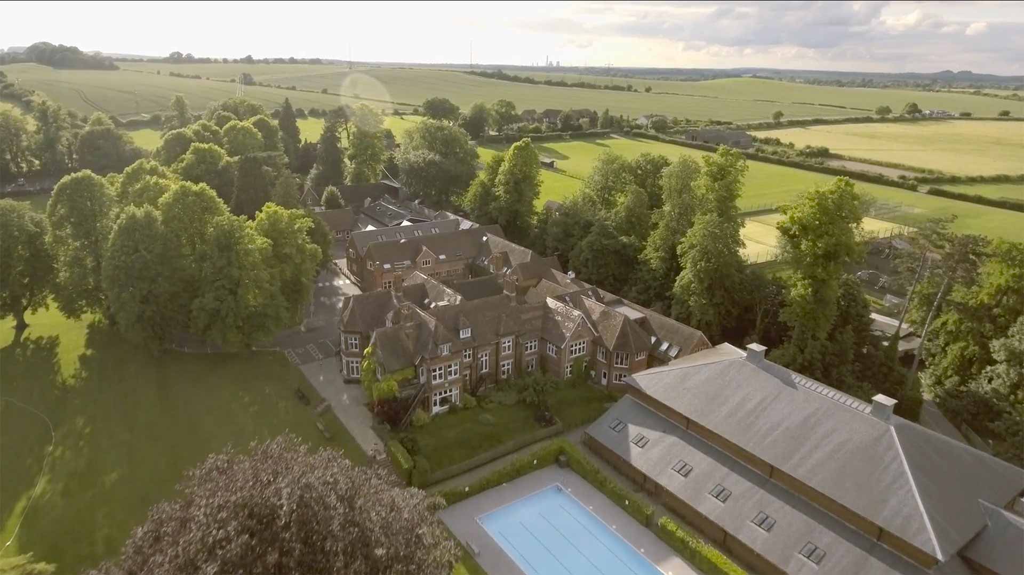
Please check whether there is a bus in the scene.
No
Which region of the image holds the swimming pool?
bottom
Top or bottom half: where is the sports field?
top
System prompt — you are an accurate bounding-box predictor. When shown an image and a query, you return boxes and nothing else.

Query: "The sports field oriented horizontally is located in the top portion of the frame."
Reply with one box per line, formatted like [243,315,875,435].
[473,135,1024,251]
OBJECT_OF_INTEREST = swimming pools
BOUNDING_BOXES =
[471,477,668,575]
